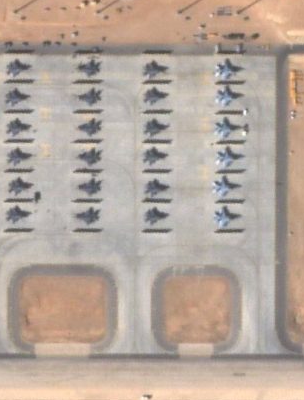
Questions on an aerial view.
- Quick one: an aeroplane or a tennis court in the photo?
aeroplane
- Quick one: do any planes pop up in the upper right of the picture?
Yes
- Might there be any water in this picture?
No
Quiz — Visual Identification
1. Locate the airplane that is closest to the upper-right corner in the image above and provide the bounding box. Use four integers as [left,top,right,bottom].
[215,65,238,81]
